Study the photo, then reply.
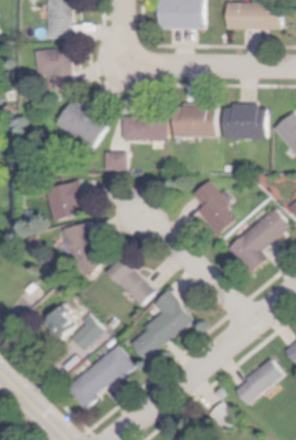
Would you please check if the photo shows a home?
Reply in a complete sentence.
Yes, this view includes a home.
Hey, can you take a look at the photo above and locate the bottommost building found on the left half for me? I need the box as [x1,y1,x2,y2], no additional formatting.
[72,345,138,407]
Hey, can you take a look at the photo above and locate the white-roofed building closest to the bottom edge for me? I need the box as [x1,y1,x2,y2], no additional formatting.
[208,402,233,427]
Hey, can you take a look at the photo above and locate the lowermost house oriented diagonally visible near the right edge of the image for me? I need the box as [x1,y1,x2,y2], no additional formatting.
[238,358,286,406]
